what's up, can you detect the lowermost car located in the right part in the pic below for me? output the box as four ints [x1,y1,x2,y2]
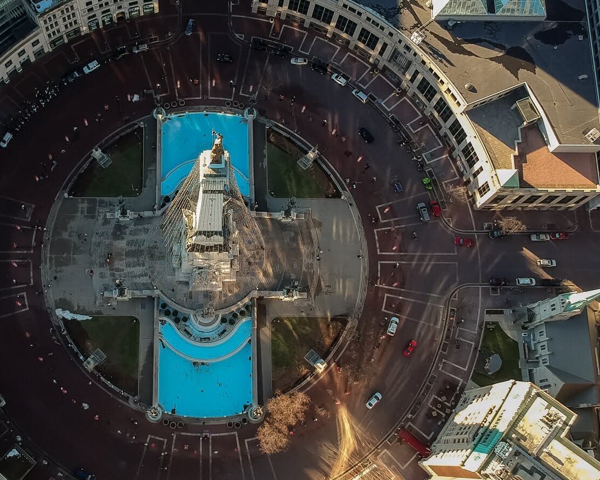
[366,392,381,409]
